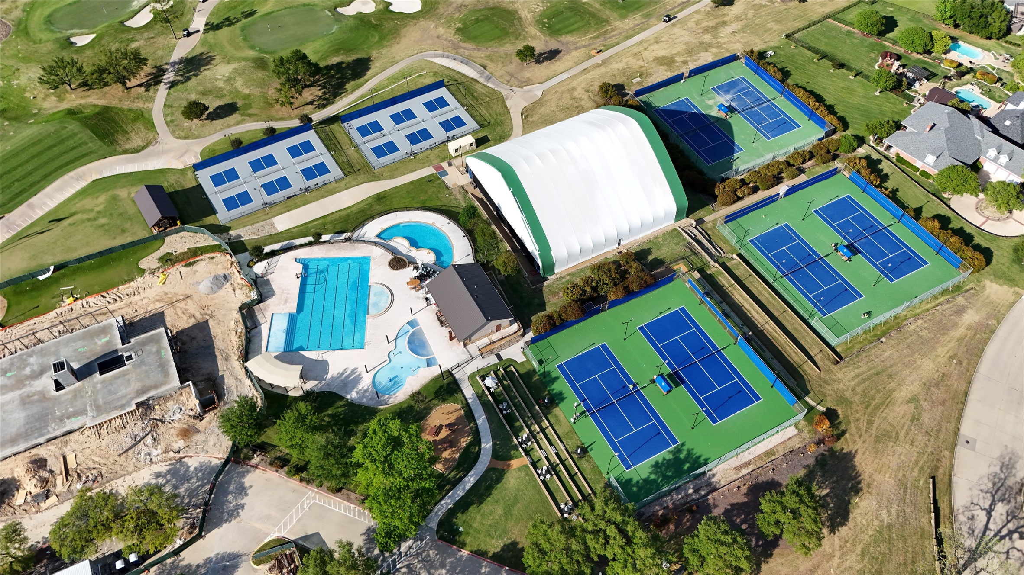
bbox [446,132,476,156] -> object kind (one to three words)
shed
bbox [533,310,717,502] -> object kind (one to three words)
tennis court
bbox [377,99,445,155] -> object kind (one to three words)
sports court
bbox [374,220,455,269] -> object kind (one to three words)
swimming pool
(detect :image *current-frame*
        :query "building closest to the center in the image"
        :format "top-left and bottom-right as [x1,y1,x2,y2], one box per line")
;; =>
[426,263,514,347]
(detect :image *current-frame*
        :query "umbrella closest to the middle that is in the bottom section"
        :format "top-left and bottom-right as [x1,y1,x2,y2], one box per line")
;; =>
[483,369,499,384]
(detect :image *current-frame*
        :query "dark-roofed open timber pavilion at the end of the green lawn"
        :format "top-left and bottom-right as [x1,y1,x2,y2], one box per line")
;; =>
[134,184,181,232]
